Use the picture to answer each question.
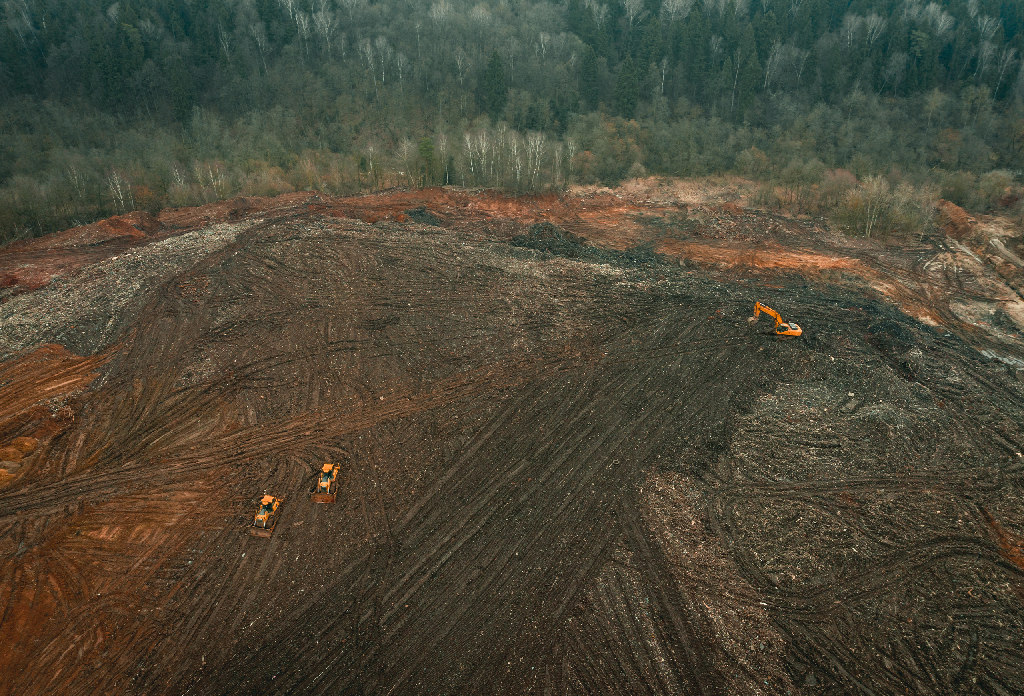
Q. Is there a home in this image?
No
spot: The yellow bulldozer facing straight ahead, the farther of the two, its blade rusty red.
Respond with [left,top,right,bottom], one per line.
[311,466,339,505]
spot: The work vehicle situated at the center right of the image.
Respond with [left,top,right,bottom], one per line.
[749,303,803,345]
